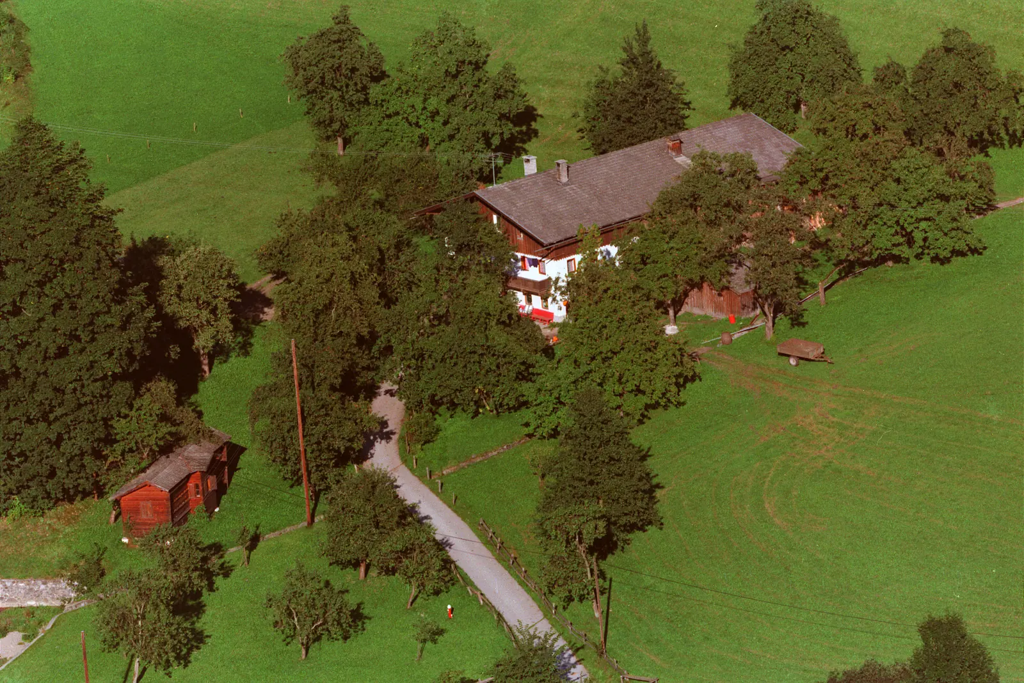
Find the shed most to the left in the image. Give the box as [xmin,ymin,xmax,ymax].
[106,430,242,537]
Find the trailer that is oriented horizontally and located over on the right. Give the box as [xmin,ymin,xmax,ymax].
[776,340,835,366]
